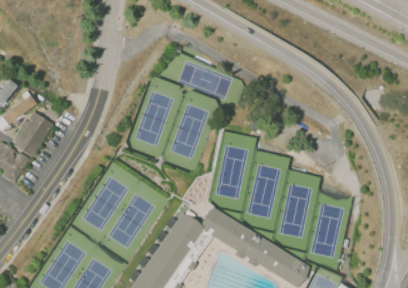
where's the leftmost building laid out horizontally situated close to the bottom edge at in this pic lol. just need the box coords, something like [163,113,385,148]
[134,210,310,288]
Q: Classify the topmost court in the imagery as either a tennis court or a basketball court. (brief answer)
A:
tennis court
